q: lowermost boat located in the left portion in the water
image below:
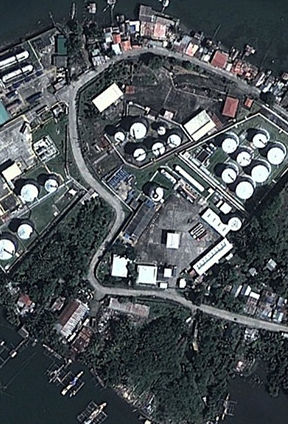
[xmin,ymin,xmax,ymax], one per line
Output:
[76,402,108,424]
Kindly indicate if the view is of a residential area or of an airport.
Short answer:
residential area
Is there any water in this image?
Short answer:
Yes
